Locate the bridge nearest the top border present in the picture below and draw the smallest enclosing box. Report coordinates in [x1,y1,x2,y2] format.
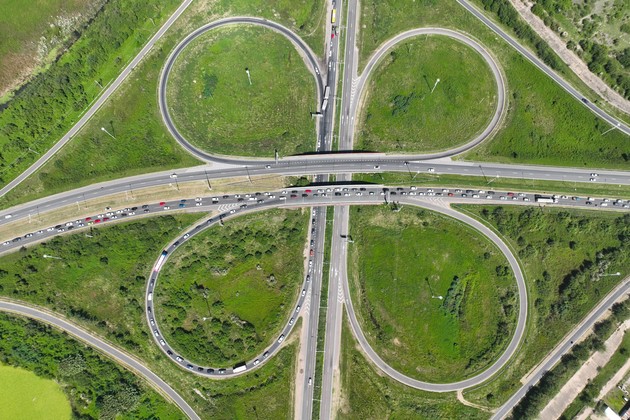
[272,151,393,176]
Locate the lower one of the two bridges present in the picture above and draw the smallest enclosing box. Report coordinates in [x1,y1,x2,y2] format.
[265,184,394,210]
